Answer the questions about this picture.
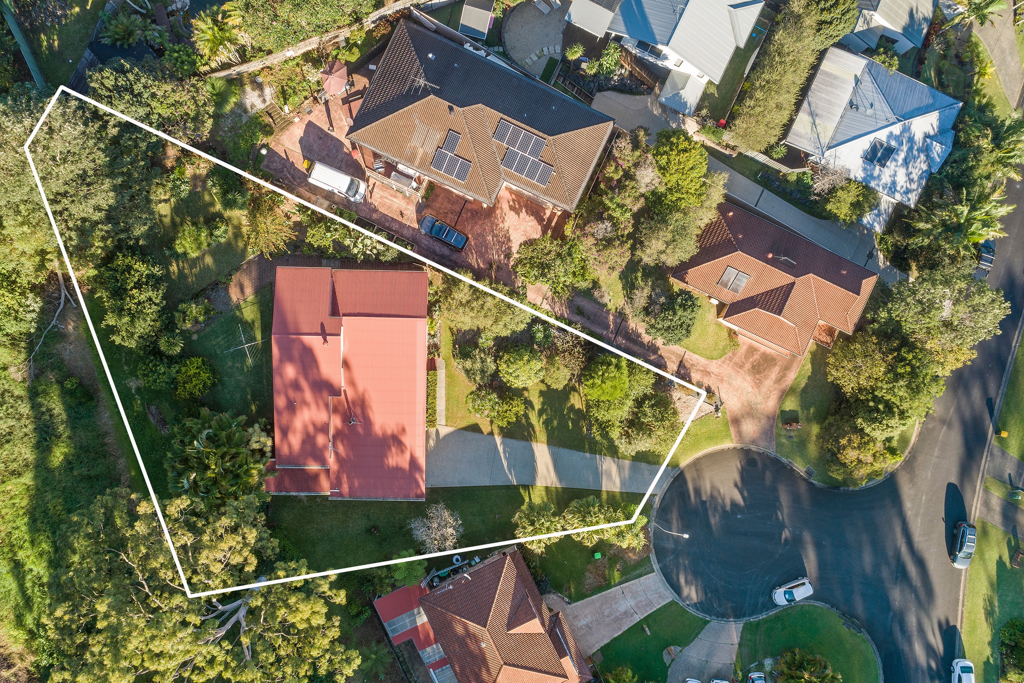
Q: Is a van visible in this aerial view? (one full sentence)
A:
Yes, there's a van here.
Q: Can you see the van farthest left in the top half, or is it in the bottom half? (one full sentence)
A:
The van farthest left is in the top half of the image.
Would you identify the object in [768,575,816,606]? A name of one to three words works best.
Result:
car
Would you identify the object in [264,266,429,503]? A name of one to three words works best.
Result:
house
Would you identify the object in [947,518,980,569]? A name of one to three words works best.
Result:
car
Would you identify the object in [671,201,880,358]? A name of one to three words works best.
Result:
house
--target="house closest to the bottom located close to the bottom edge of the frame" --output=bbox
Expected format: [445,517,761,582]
[417,548,594,683]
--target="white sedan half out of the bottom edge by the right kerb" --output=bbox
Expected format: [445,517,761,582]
[950,655,976,683]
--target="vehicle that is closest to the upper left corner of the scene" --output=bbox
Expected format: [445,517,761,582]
[307,160,365,202]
